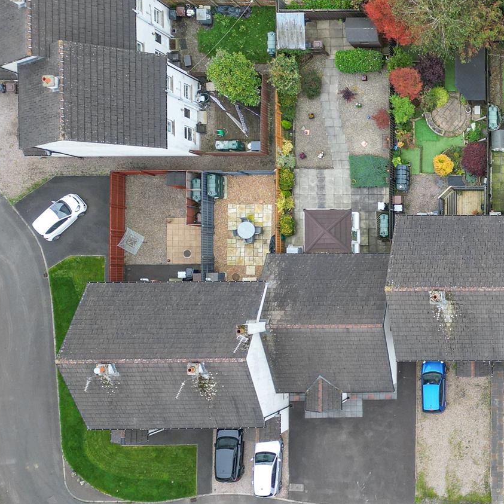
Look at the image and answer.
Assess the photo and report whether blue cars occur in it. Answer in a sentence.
Yes, there's a blue car here.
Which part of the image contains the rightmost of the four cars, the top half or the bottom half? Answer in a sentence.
The bottom half of the photo is where the rightmost of the four cars is.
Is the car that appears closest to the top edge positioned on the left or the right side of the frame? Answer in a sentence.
You can find the car that appears closest to the top edge on the left side of the picture.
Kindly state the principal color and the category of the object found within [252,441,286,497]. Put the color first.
white car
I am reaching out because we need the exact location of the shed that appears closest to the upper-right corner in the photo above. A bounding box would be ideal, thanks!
[455,46,488,106]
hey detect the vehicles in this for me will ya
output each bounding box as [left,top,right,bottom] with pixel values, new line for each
[419,363,447,413]
[30,194,94,242]
[252,441,286,497]
[212,431,246,484]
